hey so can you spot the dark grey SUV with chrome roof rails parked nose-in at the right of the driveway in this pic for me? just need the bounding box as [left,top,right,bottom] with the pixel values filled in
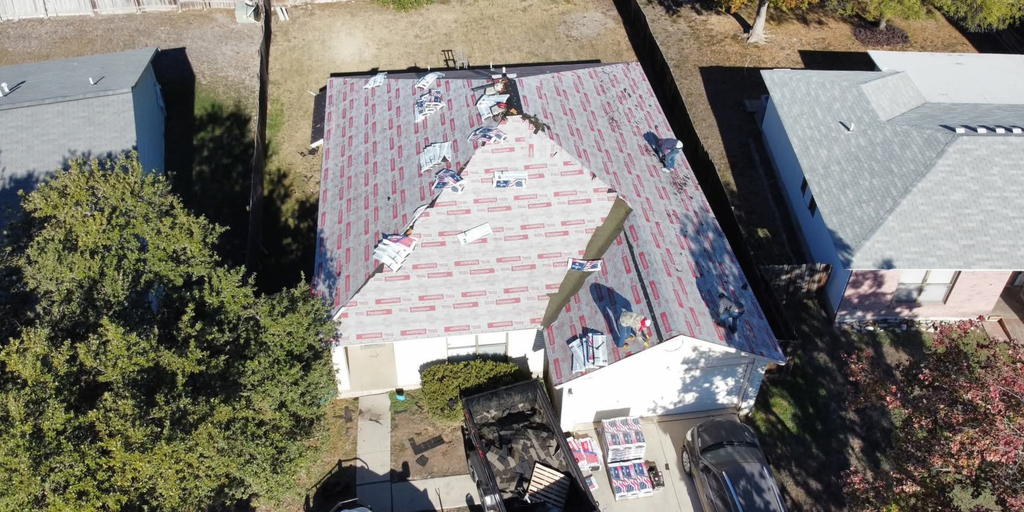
[683,412,799,512]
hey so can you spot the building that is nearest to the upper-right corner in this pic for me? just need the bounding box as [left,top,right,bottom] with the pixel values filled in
[759,51,1024,377]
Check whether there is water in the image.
No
